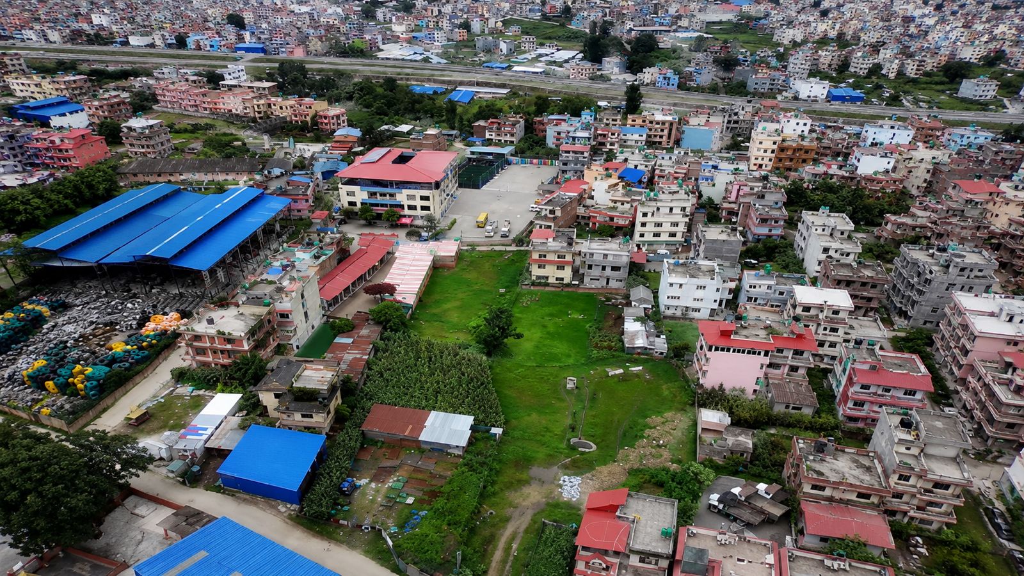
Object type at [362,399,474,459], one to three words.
shed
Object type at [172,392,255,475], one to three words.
shed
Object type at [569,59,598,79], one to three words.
house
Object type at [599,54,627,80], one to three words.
house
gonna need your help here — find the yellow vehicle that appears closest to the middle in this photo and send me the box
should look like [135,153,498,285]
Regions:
[475,211,488,230]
